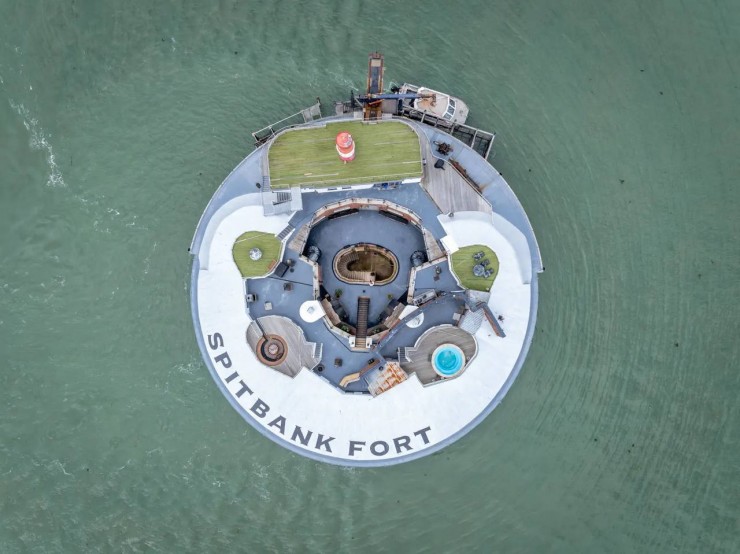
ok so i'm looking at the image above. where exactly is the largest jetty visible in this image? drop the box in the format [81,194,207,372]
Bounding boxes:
[399,106,499,160]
